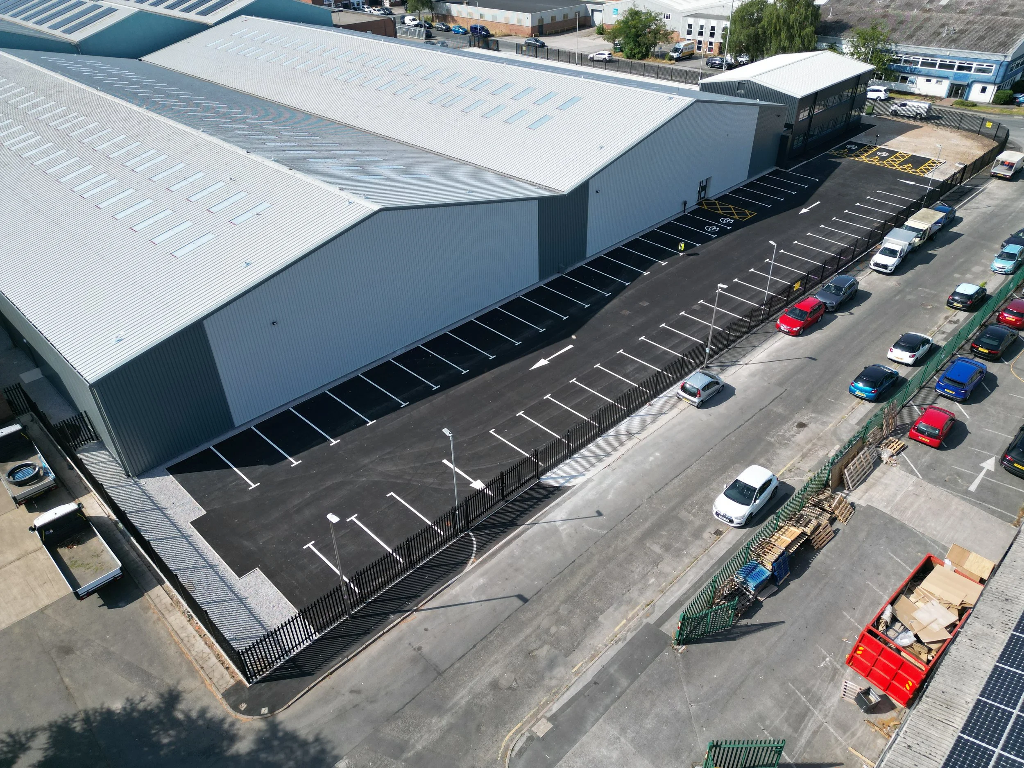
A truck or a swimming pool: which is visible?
truck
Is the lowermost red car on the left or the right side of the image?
right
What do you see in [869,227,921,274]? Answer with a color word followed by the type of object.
white truck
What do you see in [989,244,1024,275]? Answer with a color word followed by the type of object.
blue car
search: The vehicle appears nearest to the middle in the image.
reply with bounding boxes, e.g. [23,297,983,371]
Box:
[675,370,726,410]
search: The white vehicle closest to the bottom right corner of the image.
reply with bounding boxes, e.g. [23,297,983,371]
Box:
[713,462,783,527]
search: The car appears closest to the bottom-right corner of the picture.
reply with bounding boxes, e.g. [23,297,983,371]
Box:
[991,423,1024,482]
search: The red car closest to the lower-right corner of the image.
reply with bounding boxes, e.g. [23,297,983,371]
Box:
[911,404,962,449]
